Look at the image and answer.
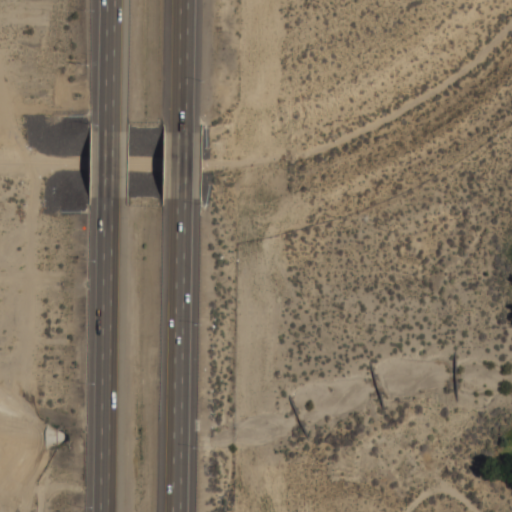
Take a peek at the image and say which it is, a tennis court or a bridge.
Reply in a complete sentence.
Looking from above, you can make out a bridge.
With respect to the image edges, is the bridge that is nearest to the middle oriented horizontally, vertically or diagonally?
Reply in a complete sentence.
The bridge that is nearest to the middle has been laid out vertically relative to the frame.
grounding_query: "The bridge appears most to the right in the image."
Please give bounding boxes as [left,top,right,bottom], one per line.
[163,124,202,206]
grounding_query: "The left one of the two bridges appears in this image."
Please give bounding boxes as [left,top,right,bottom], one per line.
[90,124,128,206]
